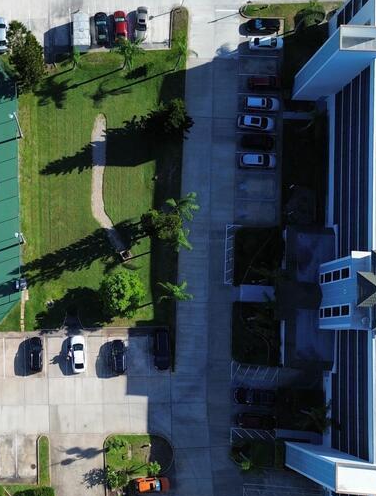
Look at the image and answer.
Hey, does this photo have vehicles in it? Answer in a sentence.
Yes, you can see a vehicle in this photo.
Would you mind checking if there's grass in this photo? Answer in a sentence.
Yes, grass can be seen from above here.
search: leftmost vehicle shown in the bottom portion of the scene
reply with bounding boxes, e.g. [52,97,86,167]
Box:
[27,338,45,373]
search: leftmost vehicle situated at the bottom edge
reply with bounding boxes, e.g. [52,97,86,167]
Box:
[135,476,171,495]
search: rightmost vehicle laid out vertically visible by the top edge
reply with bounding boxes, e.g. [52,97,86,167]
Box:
[133,5,150,44]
